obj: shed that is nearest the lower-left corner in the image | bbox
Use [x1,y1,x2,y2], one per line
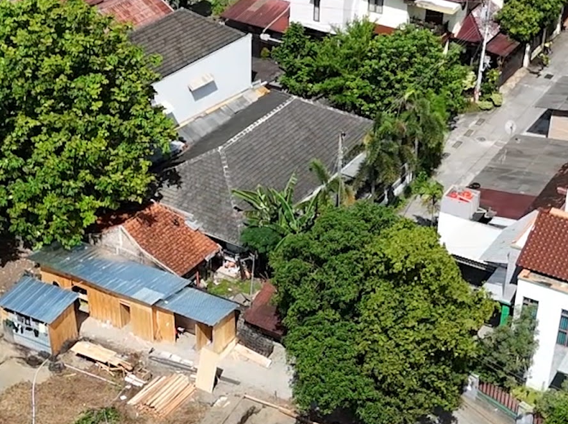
[0,276,79,357]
